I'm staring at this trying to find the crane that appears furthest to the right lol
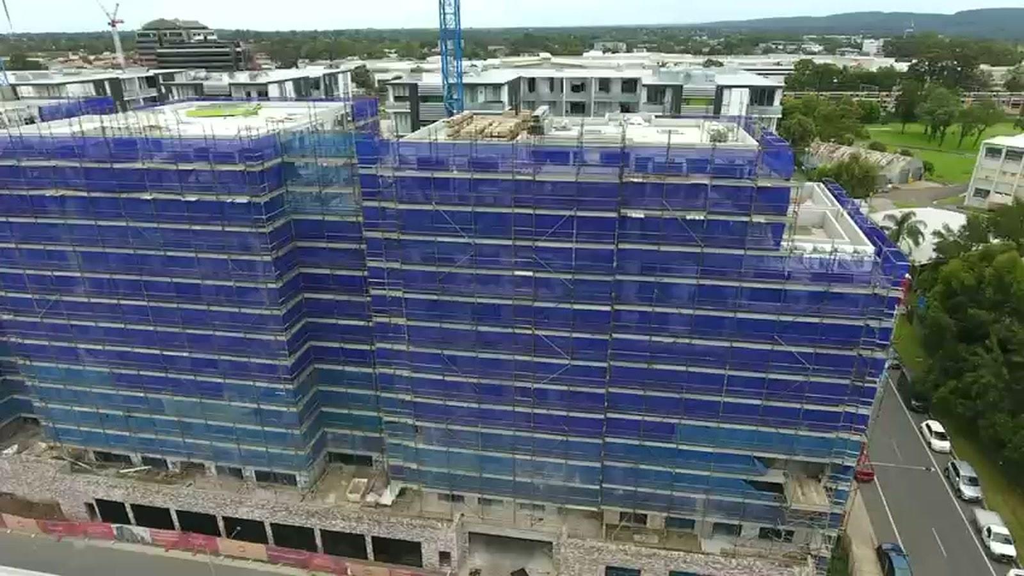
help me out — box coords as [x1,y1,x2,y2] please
[435,0,461,113]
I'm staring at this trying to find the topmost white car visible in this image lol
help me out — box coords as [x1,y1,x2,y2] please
[921,423,952,456]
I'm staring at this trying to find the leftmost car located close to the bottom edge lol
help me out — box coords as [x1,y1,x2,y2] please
[874,547,911,576]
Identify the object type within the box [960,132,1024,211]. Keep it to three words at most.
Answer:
building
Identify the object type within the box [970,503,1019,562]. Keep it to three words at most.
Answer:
truck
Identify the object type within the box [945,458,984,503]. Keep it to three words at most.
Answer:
car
